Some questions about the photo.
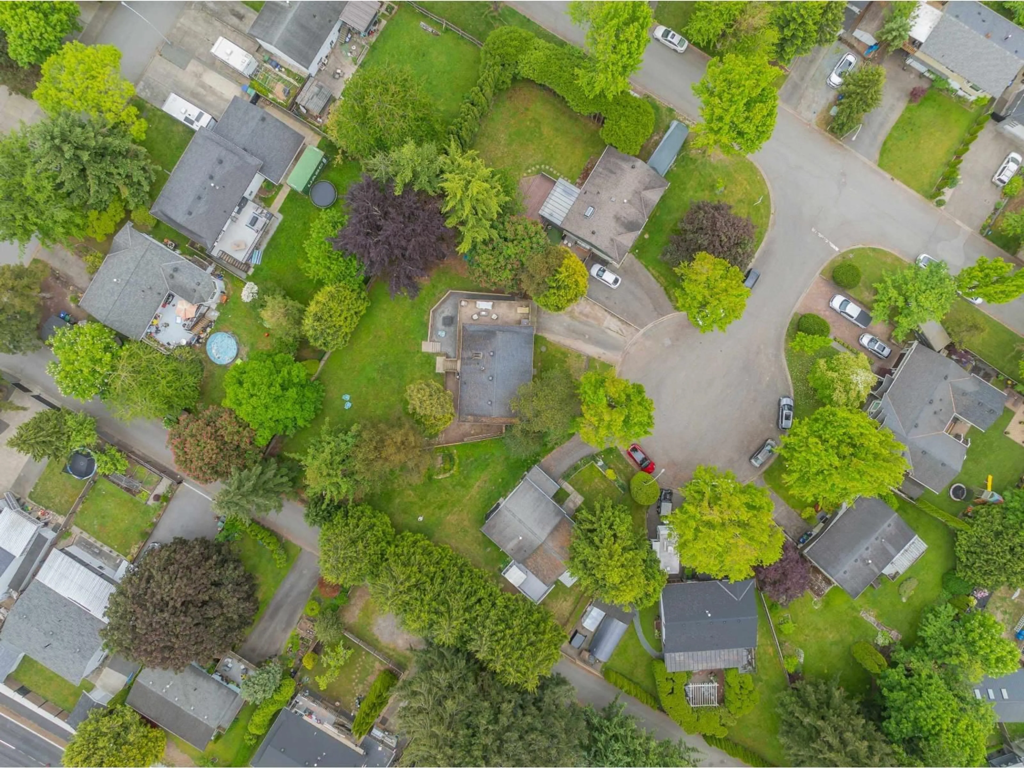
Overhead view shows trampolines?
Yes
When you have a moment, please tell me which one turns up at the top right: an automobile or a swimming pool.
automobile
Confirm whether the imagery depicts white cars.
Yes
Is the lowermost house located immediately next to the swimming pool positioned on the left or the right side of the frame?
left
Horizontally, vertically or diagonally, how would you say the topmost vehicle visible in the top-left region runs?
diagonally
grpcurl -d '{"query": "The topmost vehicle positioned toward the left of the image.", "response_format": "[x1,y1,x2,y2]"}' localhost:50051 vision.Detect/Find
[210,36,262,80]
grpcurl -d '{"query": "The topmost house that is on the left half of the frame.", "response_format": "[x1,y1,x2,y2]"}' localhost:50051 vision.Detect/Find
[247,0,369,82]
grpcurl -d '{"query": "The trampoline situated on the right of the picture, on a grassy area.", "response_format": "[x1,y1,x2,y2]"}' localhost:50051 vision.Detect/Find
[950,484,980,505]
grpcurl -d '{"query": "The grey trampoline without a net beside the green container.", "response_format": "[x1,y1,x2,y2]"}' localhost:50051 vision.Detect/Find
[307,179,336,207]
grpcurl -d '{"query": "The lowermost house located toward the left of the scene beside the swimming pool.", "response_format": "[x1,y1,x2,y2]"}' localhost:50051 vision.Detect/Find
[78,224,231,348]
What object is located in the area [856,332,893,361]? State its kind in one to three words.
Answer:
car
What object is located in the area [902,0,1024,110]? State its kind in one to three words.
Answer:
house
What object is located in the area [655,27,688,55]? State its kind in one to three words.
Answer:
car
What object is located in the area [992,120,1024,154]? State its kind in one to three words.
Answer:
shed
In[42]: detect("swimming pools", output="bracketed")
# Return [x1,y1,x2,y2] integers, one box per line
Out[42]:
[206,332,241,365]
